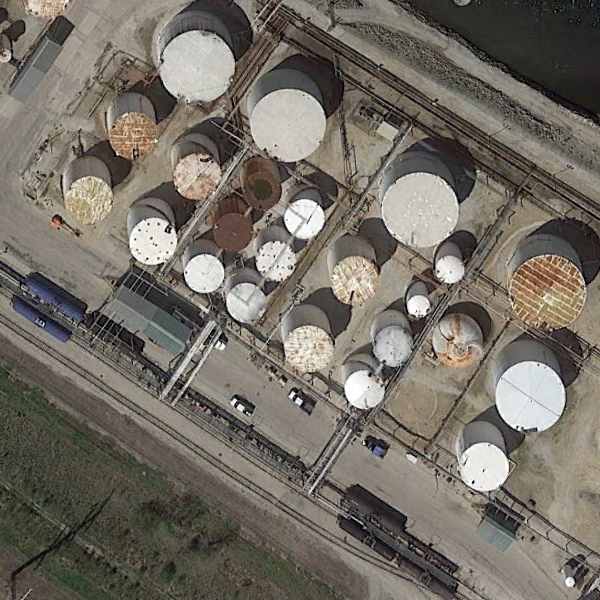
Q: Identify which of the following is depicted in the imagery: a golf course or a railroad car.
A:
railroad car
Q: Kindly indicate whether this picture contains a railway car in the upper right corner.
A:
No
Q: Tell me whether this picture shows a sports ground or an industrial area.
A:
industrial area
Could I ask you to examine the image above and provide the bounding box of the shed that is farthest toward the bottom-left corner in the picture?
[92,264,195,358]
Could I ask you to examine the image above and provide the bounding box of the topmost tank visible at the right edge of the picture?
[502,231,587,330]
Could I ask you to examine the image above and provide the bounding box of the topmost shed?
[10,29,62,102]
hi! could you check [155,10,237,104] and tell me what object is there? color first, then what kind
white storage tank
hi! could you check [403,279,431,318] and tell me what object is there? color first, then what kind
white storage tank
